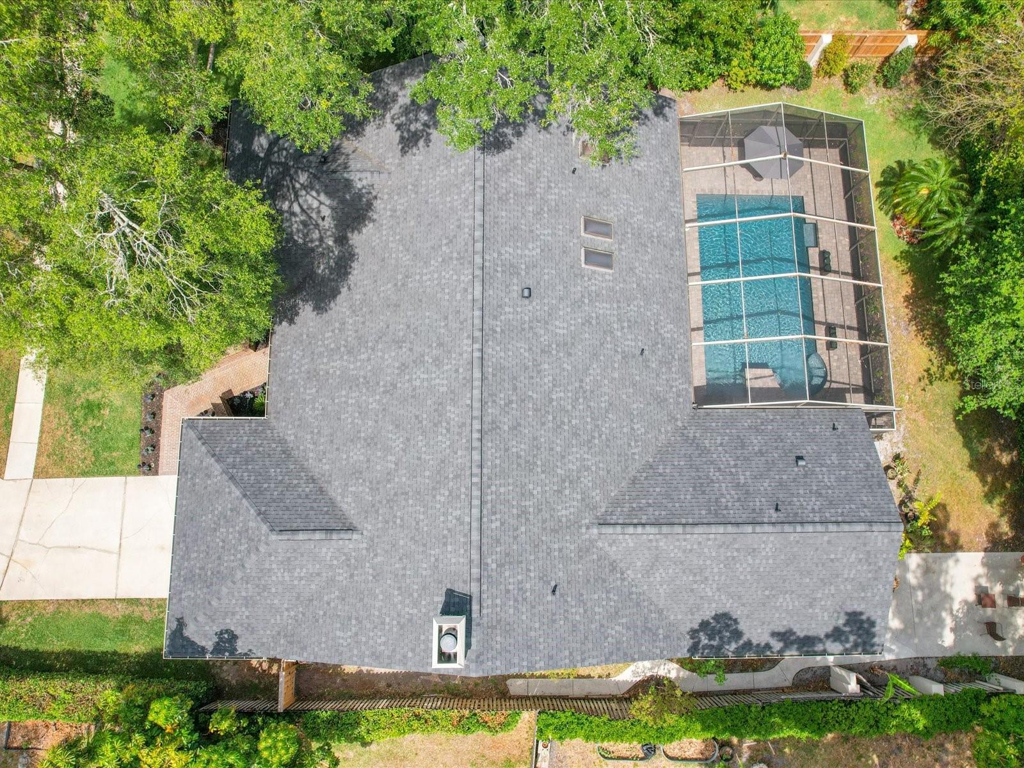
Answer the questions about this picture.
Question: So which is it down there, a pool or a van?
pool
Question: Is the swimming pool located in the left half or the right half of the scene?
right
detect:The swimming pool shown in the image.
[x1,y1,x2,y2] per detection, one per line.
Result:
[697,194,834,409]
